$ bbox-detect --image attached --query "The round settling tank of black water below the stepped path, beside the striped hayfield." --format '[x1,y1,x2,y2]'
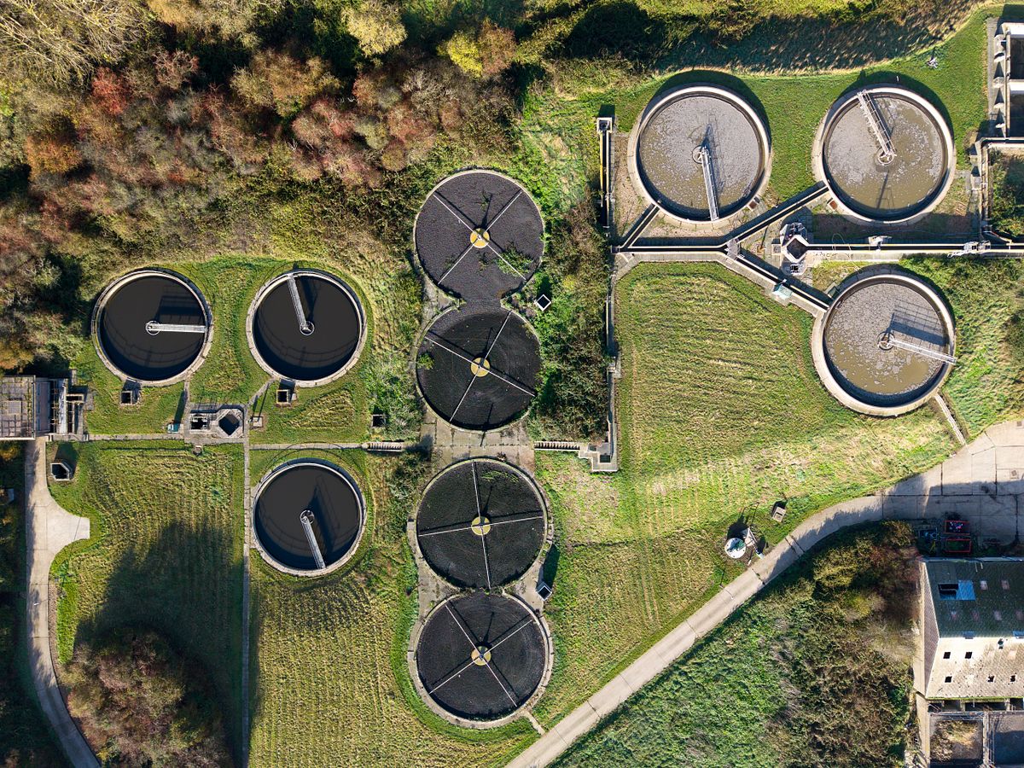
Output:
[251,461,367,577]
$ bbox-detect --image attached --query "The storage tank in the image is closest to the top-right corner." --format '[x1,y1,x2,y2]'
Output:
[811,88,956,232]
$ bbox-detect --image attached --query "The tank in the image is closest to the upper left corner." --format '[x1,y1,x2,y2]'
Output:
[93,270,213,389]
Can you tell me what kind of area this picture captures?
industrial area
